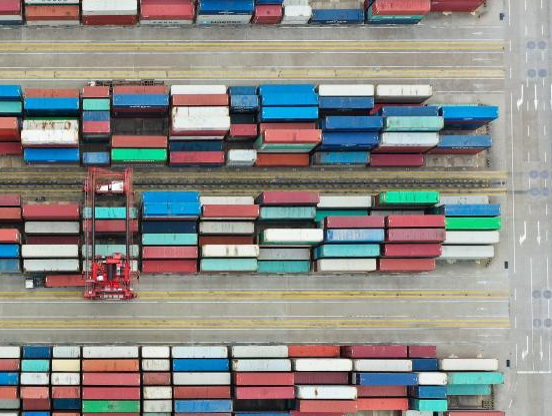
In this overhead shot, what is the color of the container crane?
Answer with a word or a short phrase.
red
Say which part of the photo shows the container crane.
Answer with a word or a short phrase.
left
